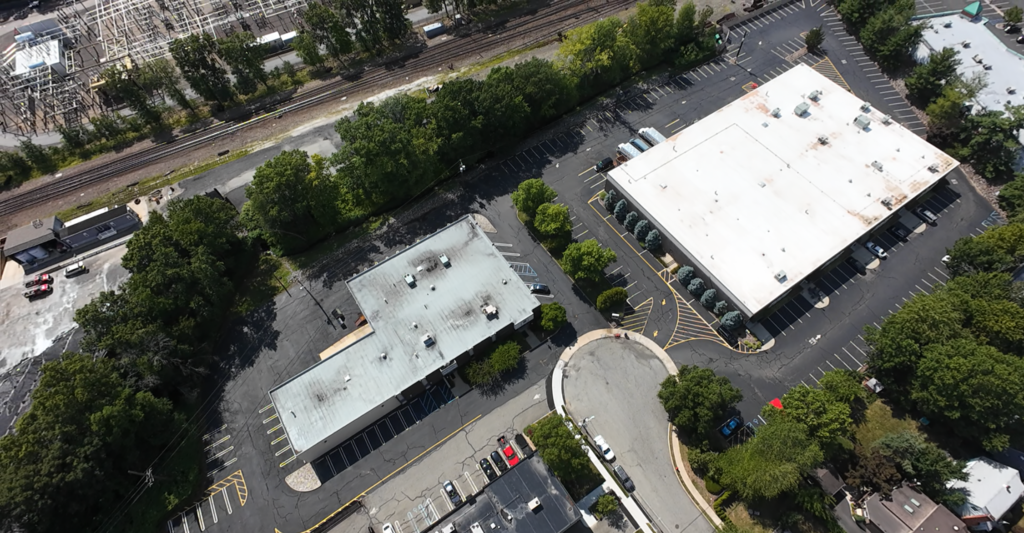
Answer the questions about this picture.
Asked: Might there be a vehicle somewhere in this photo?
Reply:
Yes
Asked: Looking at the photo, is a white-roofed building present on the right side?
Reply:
Yes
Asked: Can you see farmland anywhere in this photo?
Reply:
No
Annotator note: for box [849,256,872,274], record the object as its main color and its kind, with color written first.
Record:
black car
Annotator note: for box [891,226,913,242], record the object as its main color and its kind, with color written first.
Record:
black car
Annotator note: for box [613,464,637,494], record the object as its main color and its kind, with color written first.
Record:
gray car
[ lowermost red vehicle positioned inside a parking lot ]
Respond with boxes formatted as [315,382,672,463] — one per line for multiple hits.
[497,437,521,468]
